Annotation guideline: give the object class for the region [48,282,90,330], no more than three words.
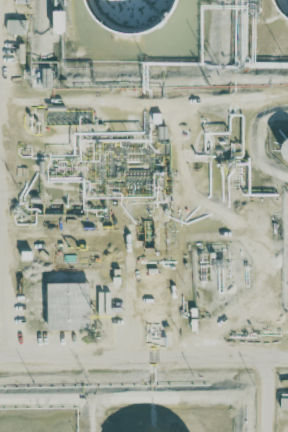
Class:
building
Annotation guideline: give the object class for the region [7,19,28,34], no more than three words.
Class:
shed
